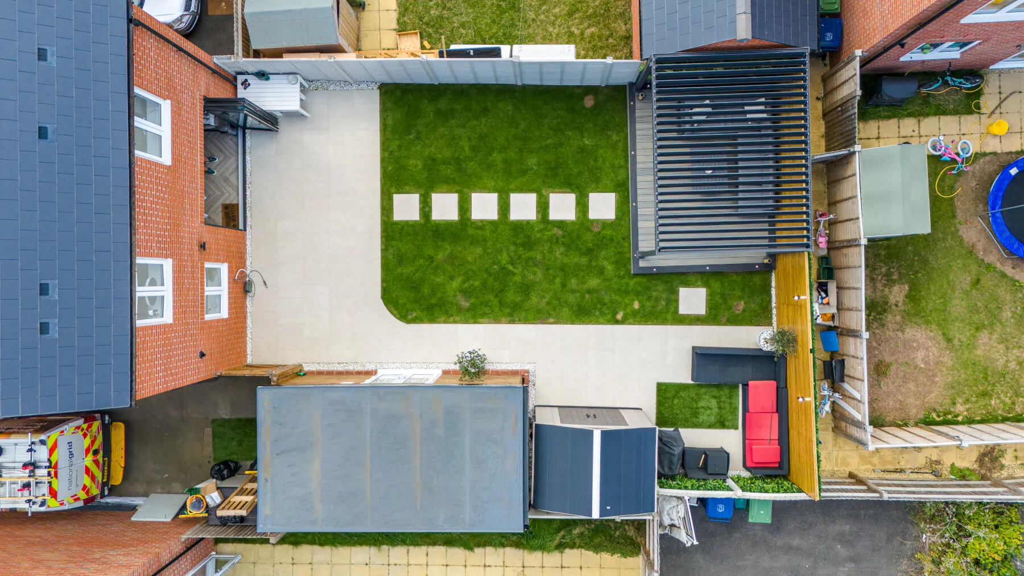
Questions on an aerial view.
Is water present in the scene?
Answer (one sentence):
No, water can't be seen anywhere here.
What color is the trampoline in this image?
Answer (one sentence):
In this view, the trampoline is blue.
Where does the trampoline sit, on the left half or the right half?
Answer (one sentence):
The trampoline appears in the right half of the scene.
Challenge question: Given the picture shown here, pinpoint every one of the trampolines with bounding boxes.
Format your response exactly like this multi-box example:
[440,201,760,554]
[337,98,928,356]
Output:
[977,157,1024,258]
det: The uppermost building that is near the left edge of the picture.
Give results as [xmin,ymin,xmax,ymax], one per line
[0,0,250,417]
